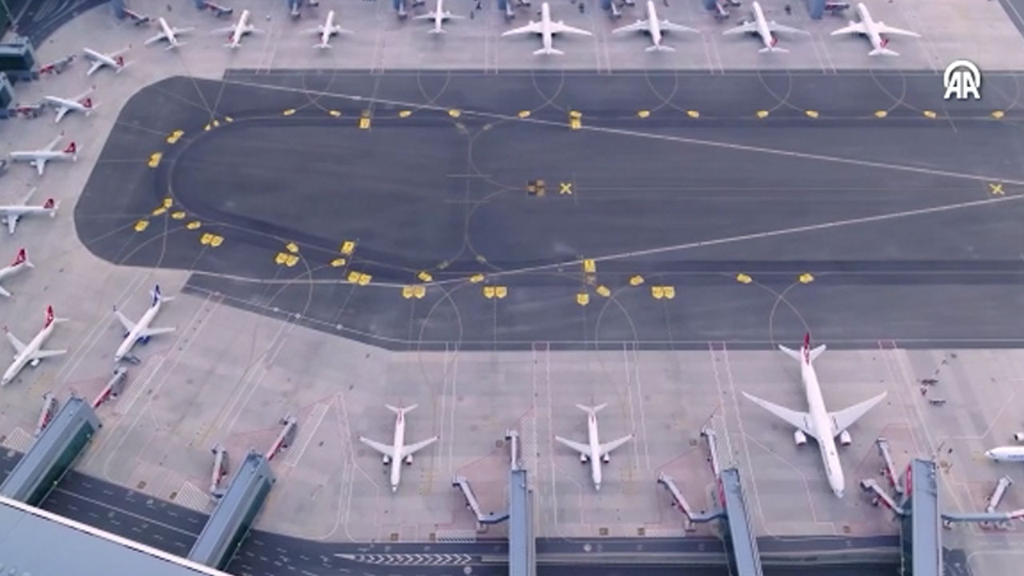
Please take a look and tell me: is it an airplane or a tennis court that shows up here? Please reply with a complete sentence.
The one in the frame is an airplane.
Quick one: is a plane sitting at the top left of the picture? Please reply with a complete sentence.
Yes, at the top left of the picture there is a plane.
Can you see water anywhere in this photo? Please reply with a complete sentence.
No, the picture contains no water.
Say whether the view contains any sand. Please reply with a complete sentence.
No, there's no sand in this view.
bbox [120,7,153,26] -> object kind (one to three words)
jet bridge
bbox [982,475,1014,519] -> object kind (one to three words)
jet bridge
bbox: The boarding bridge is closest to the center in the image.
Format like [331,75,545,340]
[504,431,520,475]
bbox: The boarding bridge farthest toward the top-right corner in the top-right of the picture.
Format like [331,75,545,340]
[825,5,852,17]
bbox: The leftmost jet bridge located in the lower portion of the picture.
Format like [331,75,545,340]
[33,392,58,439]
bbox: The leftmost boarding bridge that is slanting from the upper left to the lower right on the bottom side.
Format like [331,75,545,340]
[451,478,510,527]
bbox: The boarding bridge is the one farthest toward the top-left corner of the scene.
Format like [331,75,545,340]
[31,54,80,79]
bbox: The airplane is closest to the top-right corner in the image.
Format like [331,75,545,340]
[831,1,923,53]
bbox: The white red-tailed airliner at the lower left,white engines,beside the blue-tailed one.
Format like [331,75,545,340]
[1,310,68,385]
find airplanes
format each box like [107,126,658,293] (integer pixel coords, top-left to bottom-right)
[1,310,68,385]
[357,404,438,493]
[44,86,98,122]
[412,0,464,32]
[613,0,702,50]
[11,130,79,175]
[210,10,264,46]
[299,10,353,47]
[83,45,129,75]
[984,446,1024,460]
[831,1,923,53]
[554,401,635,491]
[113,291,175,362]
[143,17,196,51]
[723,0,813,51]
[0,253,34,299]
[743,340,886,498]
[503,1,592,53]
[0,183,62,233]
